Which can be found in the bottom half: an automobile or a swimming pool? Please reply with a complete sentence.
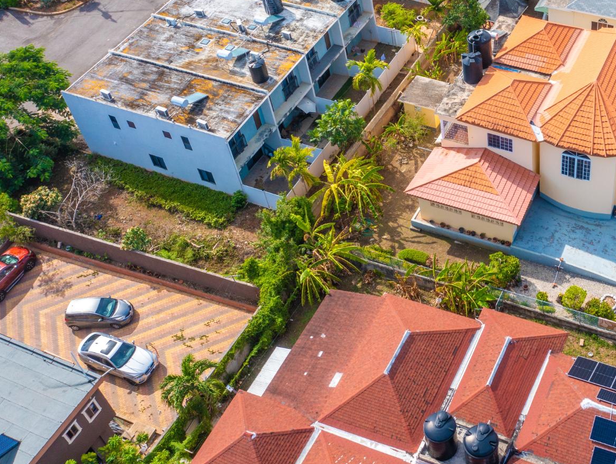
What appears in the bottom half is an automobile.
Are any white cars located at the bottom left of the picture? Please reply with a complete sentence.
Yes, I can see a white car at the bottom left of the picture.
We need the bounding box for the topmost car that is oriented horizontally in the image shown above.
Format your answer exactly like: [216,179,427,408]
[56,291,136,329]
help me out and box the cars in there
[56,291,136,329]
[73,325,159,384]
[0,238,40,297]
